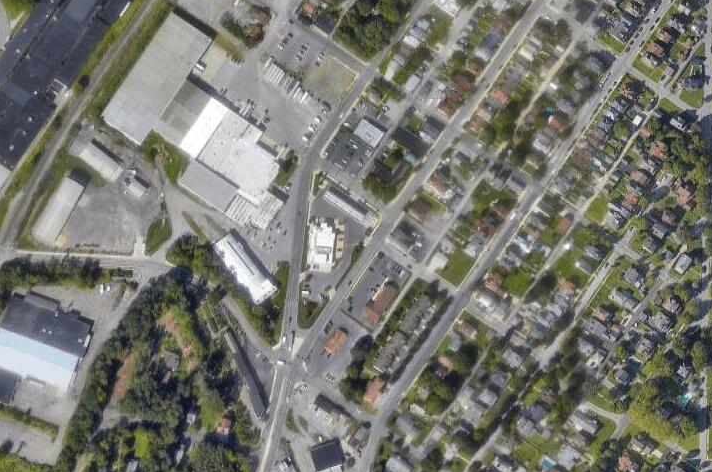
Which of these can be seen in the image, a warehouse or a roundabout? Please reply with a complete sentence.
It is a warehouse that can be seen here.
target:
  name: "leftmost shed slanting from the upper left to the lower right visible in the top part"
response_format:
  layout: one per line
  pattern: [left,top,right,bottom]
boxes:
[81,144,122,182]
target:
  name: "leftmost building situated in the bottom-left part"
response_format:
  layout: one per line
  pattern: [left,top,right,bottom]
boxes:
[0,292,94,401]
